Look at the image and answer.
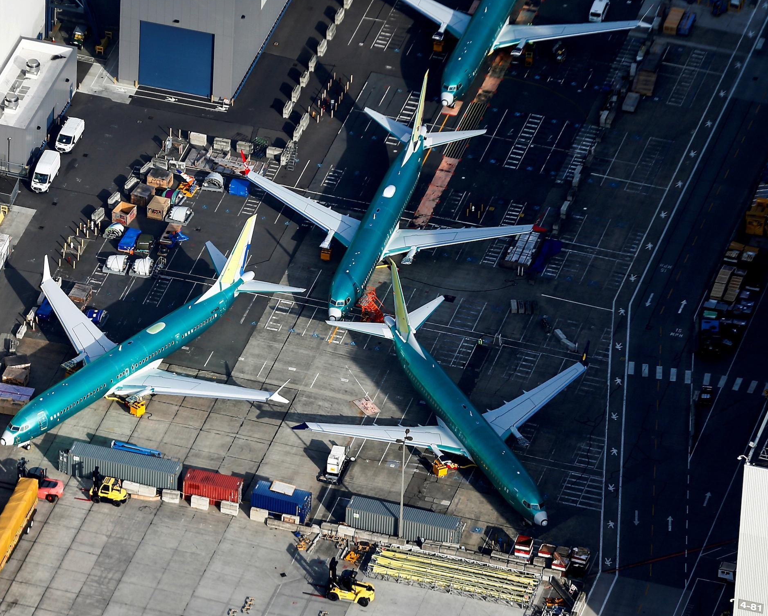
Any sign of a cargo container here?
Yes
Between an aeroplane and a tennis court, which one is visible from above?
aeroplane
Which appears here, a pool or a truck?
truck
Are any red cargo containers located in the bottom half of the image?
Yes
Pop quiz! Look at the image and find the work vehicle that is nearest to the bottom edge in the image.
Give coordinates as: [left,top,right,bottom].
[302,551,380,610]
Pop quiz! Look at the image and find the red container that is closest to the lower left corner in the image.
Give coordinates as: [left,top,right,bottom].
[185,467,247,508]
